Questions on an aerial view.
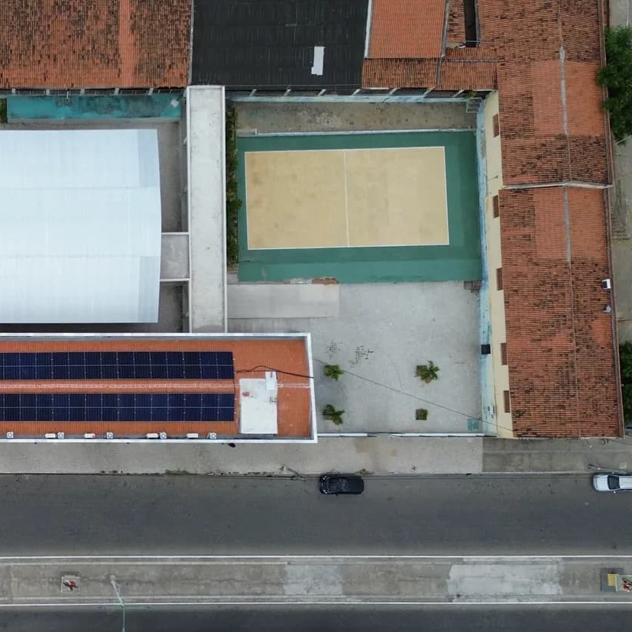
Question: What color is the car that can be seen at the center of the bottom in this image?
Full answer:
The color of the car that can be seen at the center of the bottom is black.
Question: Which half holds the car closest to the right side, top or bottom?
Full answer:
The car closest to the right side sits in the bottom half of the picture.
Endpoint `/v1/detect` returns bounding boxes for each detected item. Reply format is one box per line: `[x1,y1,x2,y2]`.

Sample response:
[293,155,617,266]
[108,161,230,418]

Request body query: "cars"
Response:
[594,472,632,497]
[320,473,368,497]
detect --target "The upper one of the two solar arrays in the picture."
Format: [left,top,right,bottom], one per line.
[0,351,238,380]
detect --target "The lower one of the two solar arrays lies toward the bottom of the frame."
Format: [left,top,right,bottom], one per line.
[0,393,239,422]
